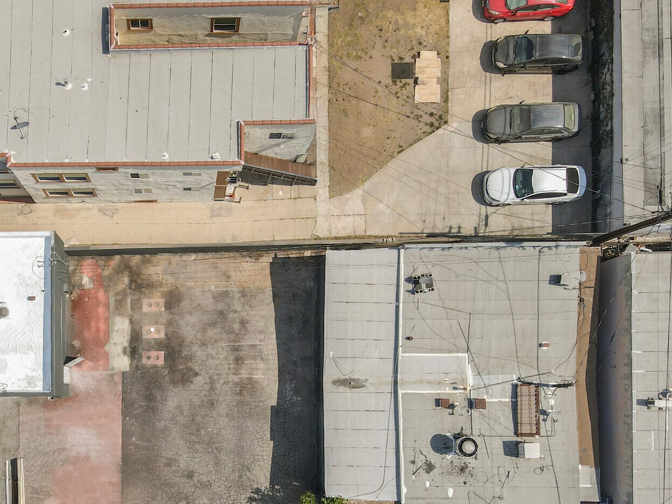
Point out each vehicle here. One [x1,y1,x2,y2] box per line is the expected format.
[485,160,587,206]
[495,28,585,76]
[484,0,576,24]
[484,98,582,144]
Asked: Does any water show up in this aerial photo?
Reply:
No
